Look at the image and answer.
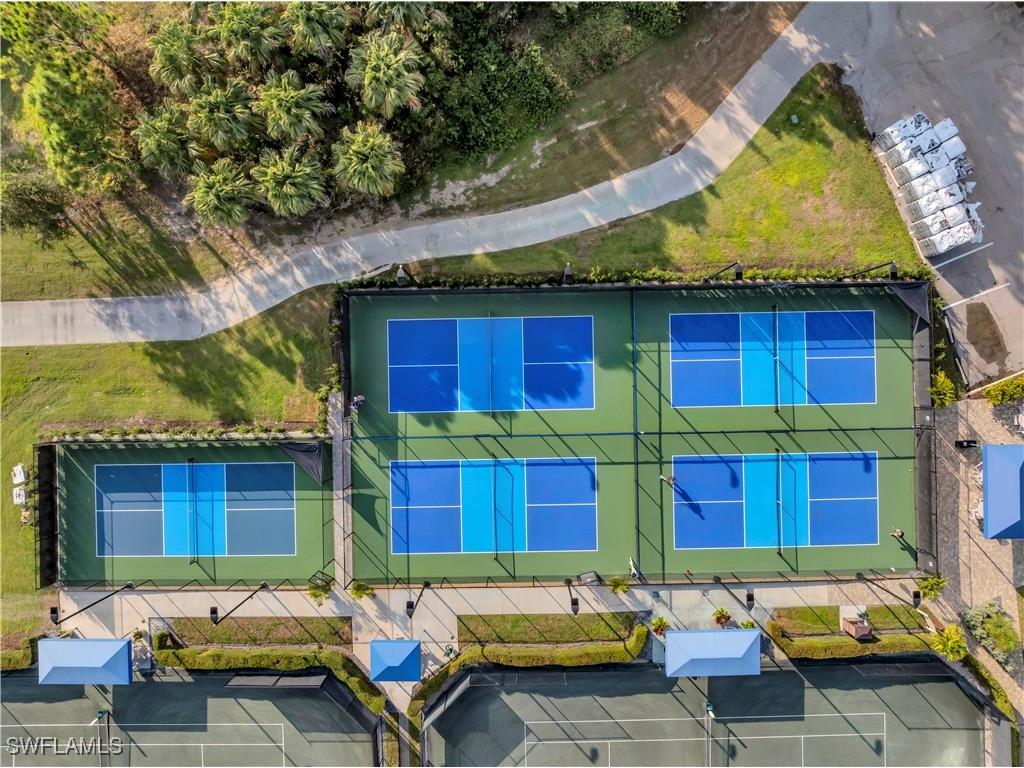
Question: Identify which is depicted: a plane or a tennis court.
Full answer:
The one in the frame is a tennis court.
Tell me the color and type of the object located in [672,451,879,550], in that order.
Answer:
blue sports court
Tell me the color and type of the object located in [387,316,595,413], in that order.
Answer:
blue sports court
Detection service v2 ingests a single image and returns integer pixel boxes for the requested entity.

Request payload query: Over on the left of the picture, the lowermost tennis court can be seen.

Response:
[0,661,386,768]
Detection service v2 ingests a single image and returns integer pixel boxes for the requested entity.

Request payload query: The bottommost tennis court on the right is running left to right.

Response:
[430,657,984,768]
